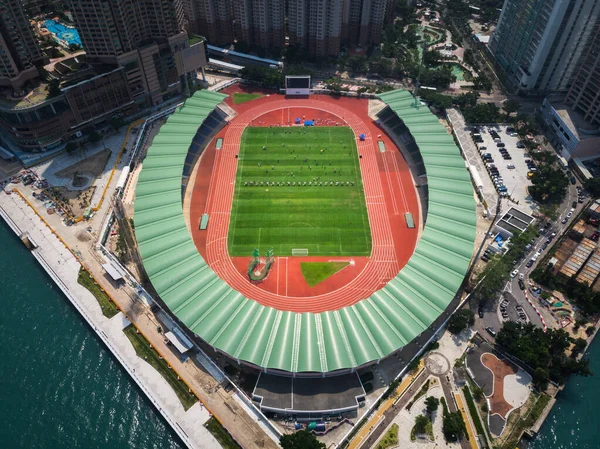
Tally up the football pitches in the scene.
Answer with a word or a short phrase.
1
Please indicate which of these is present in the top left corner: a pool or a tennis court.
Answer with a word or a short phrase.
pool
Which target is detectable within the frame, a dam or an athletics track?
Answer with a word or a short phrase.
athletics track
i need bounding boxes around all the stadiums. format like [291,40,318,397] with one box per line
[133,88,478,377]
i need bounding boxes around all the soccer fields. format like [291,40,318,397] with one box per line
[227,125,372,257]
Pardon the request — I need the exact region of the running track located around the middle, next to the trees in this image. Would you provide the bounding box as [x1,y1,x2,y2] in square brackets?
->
[190,81,418,312]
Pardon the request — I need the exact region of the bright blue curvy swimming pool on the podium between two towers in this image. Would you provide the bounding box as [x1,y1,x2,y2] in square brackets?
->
[44,17,80,49]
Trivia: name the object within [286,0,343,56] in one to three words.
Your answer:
building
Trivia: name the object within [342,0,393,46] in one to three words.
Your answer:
building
